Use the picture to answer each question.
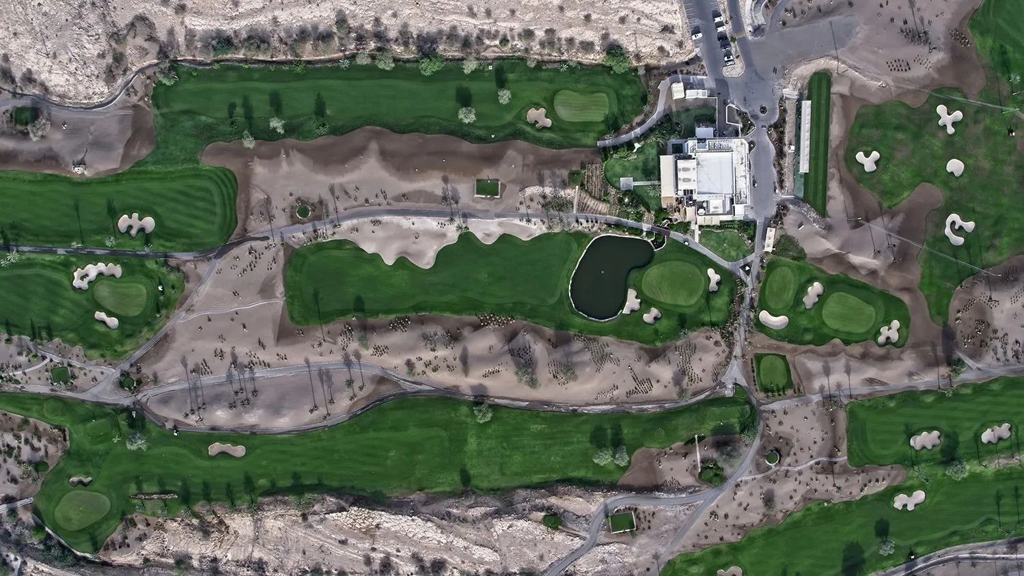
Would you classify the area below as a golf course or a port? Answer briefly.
golf course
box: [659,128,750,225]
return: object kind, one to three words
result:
building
